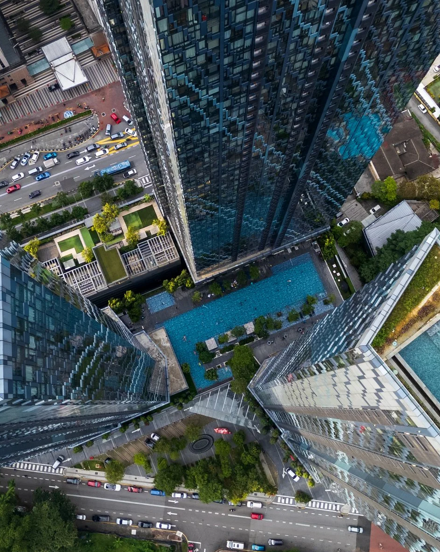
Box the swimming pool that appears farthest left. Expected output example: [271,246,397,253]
[147,293,175,313]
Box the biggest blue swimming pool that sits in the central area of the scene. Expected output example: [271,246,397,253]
[164,253,327,388]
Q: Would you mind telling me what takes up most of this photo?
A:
buildings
